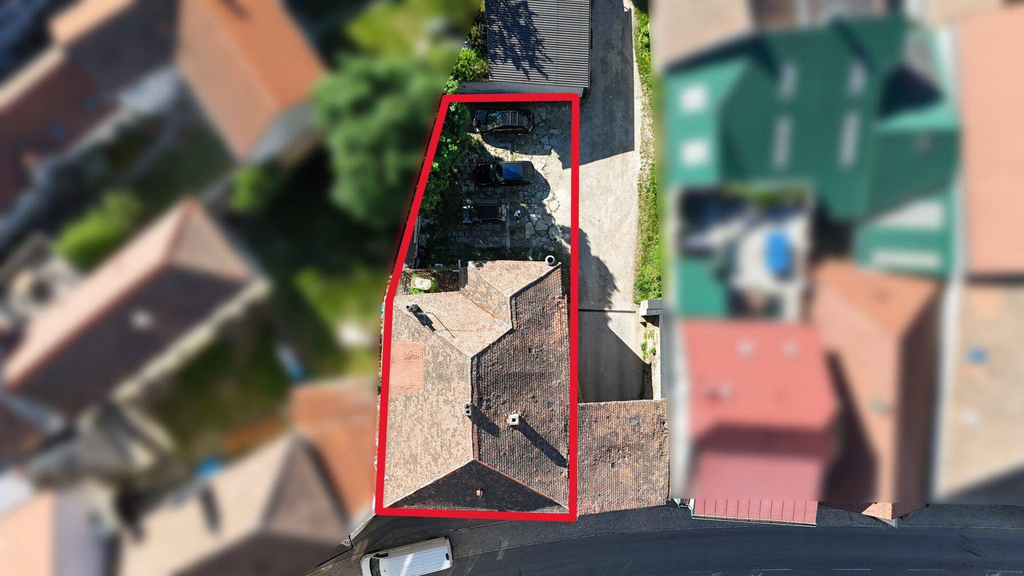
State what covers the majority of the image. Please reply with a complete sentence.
Most of the picture is covered by buildings.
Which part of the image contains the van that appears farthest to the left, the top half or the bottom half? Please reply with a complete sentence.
Seen from above, the van that appears farthest to the left lies in the bottom half of the view.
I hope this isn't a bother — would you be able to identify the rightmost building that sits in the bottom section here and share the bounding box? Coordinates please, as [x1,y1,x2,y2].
[931,283,1024,499]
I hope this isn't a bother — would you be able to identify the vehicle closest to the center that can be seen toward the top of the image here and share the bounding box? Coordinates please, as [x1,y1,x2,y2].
[461,200,509,226]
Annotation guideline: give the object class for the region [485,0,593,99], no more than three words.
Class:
shed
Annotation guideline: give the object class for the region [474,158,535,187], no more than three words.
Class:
car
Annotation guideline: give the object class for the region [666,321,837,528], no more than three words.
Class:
house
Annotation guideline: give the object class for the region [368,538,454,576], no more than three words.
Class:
van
